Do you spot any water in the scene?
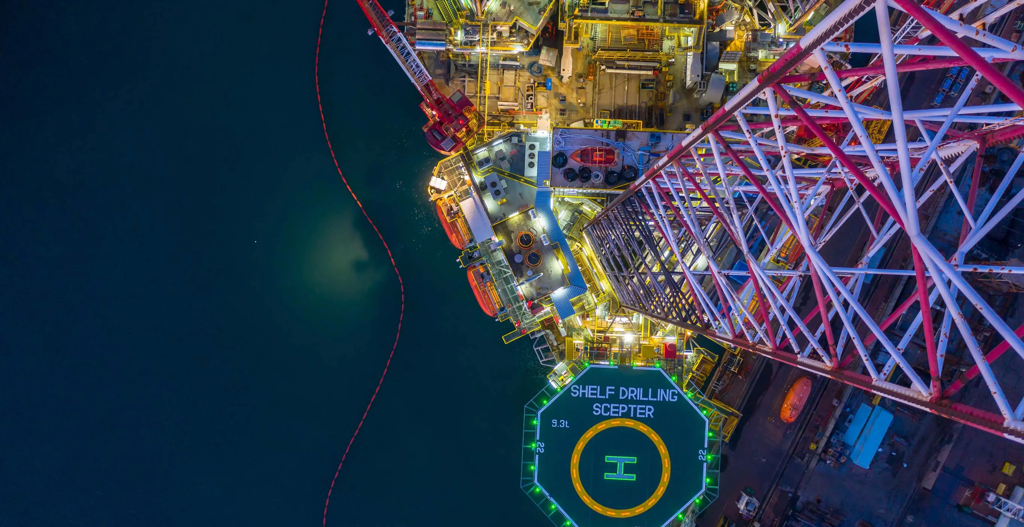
Yes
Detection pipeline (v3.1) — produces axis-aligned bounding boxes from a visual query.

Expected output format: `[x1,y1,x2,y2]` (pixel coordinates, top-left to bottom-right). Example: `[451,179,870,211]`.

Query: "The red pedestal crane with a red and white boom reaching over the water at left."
[363,0,486,159]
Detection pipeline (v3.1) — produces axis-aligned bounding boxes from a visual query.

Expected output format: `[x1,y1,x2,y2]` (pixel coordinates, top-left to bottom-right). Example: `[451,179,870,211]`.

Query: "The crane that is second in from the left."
[778,0,946,173]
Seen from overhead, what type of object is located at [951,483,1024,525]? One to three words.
crane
